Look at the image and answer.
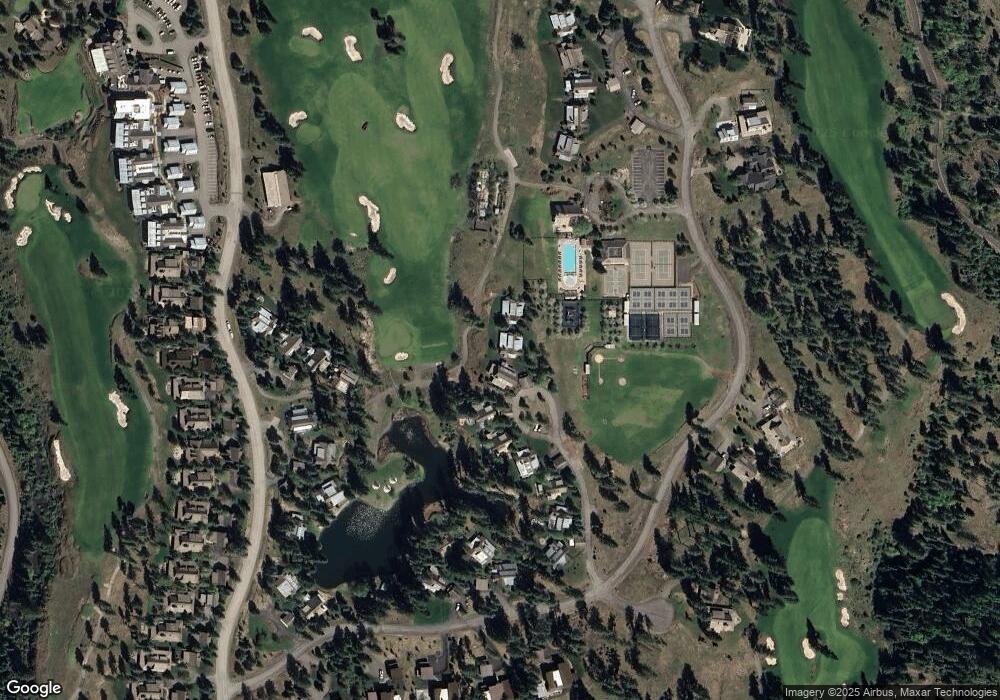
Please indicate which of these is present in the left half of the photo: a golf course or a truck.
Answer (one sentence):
There is a golf course in the left half of the photo.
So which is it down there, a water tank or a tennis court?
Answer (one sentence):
Visible in the photo is a tennis court.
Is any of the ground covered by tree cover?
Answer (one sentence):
Yes, some tree cover is visible.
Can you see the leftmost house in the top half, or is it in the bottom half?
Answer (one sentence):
Seen from above, the leftmost house lies in the top half of the view.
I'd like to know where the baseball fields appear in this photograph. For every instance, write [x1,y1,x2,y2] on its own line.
[581,346,718,462]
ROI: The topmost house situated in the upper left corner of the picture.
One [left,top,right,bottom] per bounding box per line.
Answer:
[12,19,42,42]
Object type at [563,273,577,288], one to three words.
swimming pool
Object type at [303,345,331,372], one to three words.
house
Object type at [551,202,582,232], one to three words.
building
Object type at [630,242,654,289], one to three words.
tennis court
